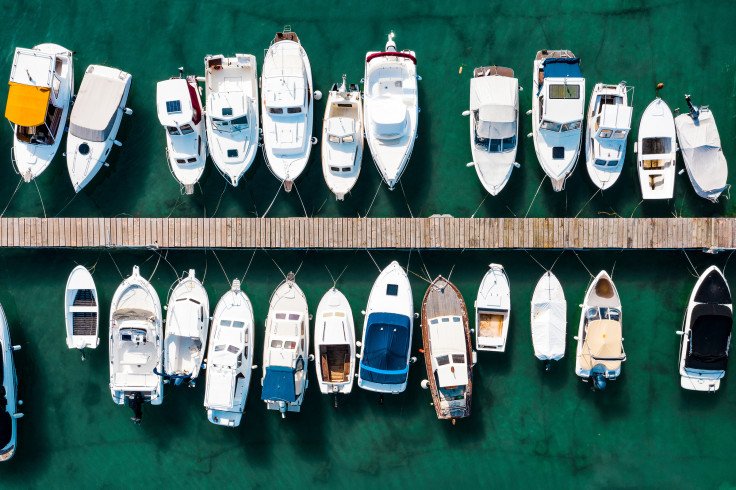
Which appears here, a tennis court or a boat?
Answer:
boat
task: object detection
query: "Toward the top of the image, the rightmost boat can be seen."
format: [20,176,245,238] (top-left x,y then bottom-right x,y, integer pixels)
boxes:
[673,91,729,203]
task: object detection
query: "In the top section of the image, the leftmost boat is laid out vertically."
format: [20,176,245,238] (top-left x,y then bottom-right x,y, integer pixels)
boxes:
[6,41,76,185]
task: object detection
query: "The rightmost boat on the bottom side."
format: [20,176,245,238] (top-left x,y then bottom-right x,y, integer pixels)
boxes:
[678,266,734,393]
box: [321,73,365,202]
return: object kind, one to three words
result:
boat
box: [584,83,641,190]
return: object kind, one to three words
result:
boat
